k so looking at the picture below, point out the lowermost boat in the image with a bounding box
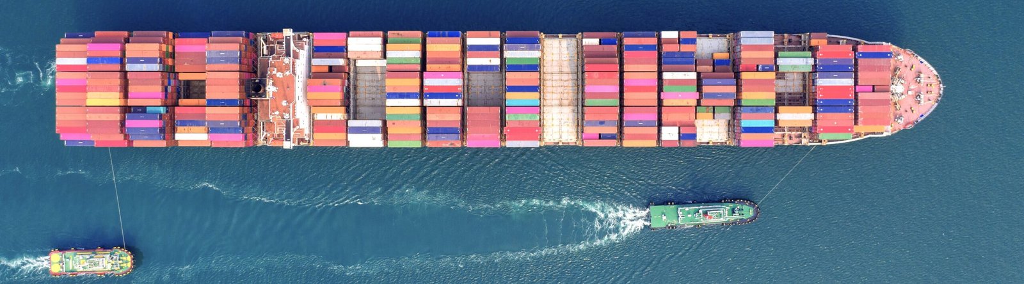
[50,247,137,276]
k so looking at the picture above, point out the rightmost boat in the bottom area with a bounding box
[649,200,761,230]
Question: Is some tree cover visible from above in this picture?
No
